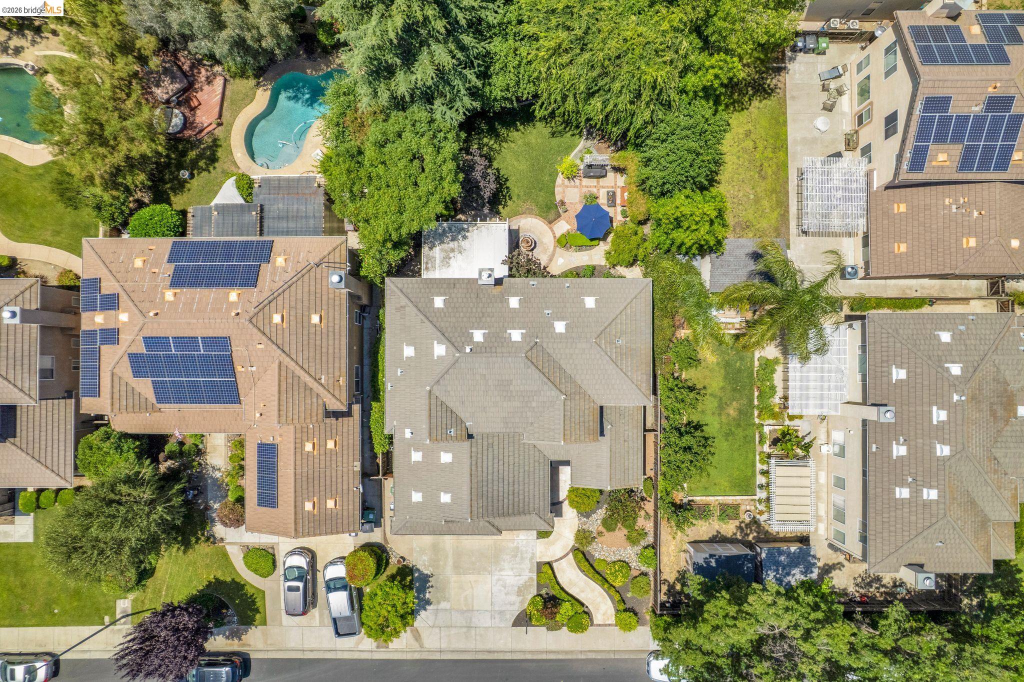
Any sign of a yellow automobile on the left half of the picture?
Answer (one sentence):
No, I see no yellow automobile on the left half of the picture.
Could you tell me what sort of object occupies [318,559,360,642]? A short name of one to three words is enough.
truck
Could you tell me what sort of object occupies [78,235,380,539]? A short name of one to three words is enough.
house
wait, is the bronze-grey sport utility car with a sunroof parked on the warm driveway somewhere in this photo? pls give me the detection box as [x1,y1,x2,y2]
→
[277,551,312,621]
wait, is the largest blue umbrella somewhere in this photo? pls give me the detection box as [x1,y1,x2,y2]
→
[574,204,611,241]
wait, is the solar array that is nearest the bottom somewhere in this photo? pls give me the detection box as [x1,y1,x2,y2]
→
[257,443,277,508]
